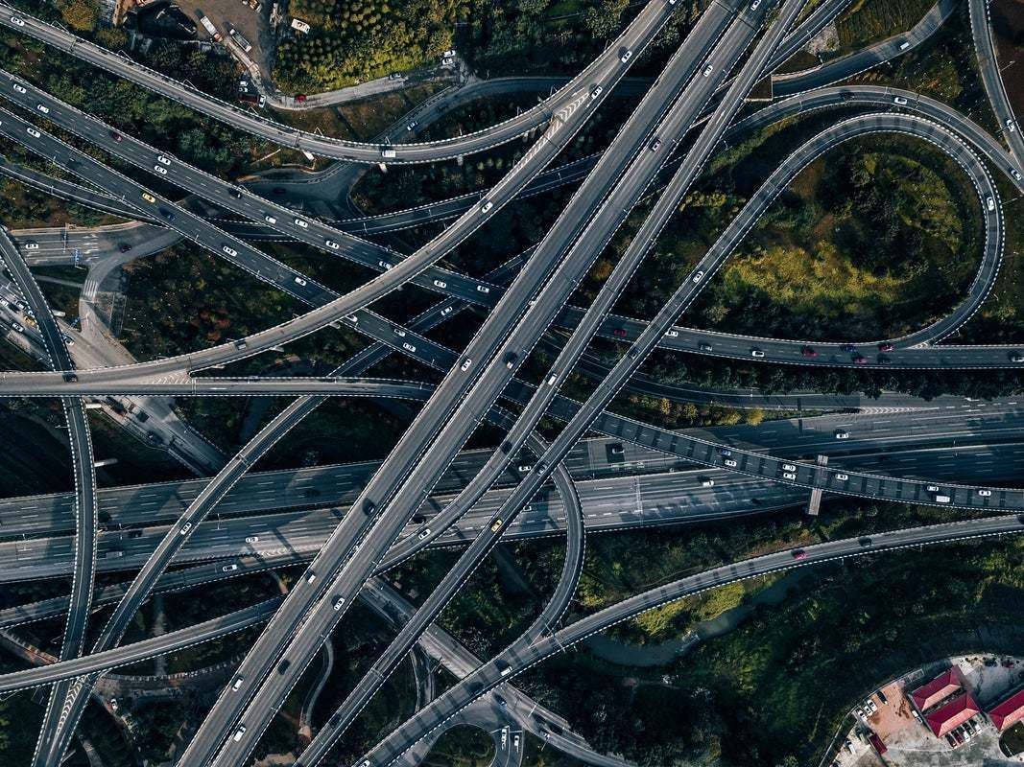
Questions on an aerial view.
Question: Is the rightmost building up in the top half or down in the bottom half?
bottom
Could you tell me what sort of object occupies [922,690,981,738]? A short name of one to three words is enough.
building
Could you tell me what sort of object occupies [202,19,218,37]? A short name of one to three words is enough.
vehicle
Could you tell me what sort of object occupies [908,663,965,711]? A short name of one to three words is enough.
building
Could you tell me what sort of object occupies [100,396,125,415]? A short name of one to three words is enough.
vehicle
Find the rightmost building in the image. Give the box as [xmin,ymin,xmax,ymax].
[984,685,1024,732]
